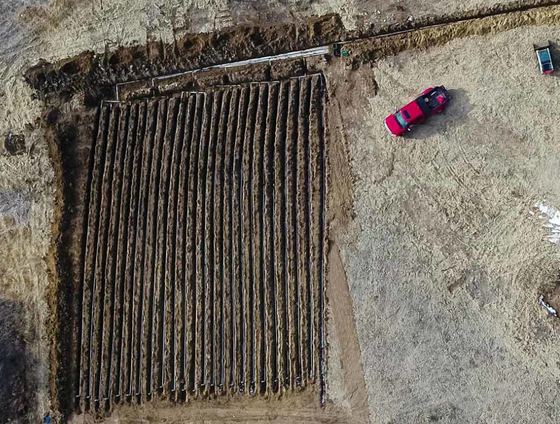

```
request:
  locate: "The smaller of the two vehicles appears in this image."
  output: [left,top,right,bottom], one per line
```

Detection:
[535,41,556,77]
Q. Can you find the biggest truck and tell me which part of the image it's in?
top right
